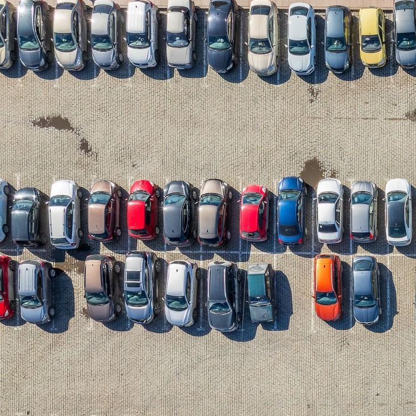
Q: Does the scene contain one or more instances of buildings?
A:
No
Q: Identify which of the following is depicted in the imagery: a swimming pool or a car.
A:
car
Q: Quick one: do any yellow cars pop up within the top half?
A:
Yes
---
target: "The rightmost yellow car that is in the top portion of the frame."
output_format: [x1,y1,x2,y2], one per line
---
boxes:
[356,7,388,68]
